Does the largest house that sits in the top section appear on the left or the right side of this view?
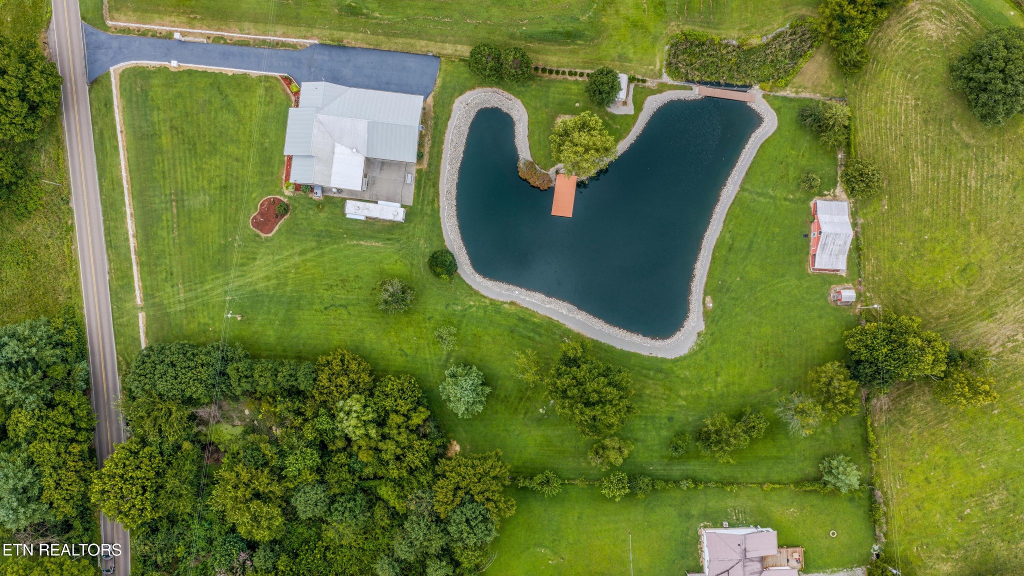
left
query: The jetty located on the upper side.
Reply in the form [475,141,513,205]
[551,174,577,217]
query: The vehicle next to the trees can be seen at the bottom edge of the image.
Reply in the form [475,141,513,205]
[97,543,113,575]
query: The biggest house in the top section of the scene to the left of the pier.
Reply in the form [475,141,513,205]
[284,78,424,192]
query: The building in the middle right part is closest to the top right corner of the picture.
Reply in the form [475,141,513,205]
[811,200,854,272]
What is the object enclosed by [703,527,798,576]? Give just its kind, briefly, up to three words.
house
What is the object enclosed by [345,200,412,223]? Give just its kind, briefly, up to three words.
trailer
